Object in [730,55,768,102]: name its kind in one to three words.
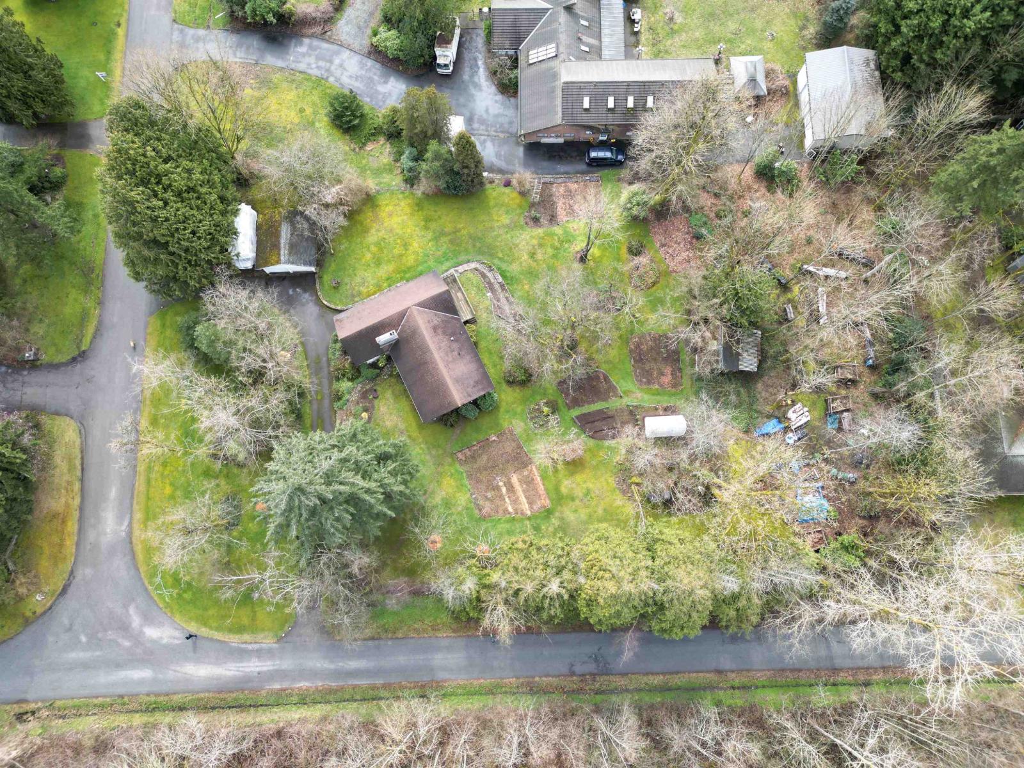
building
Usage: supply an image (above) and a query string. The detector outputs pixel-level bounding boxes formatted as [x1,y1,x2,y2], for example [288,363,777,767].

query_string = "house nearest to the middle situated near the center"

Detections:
[334,270,494,423]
